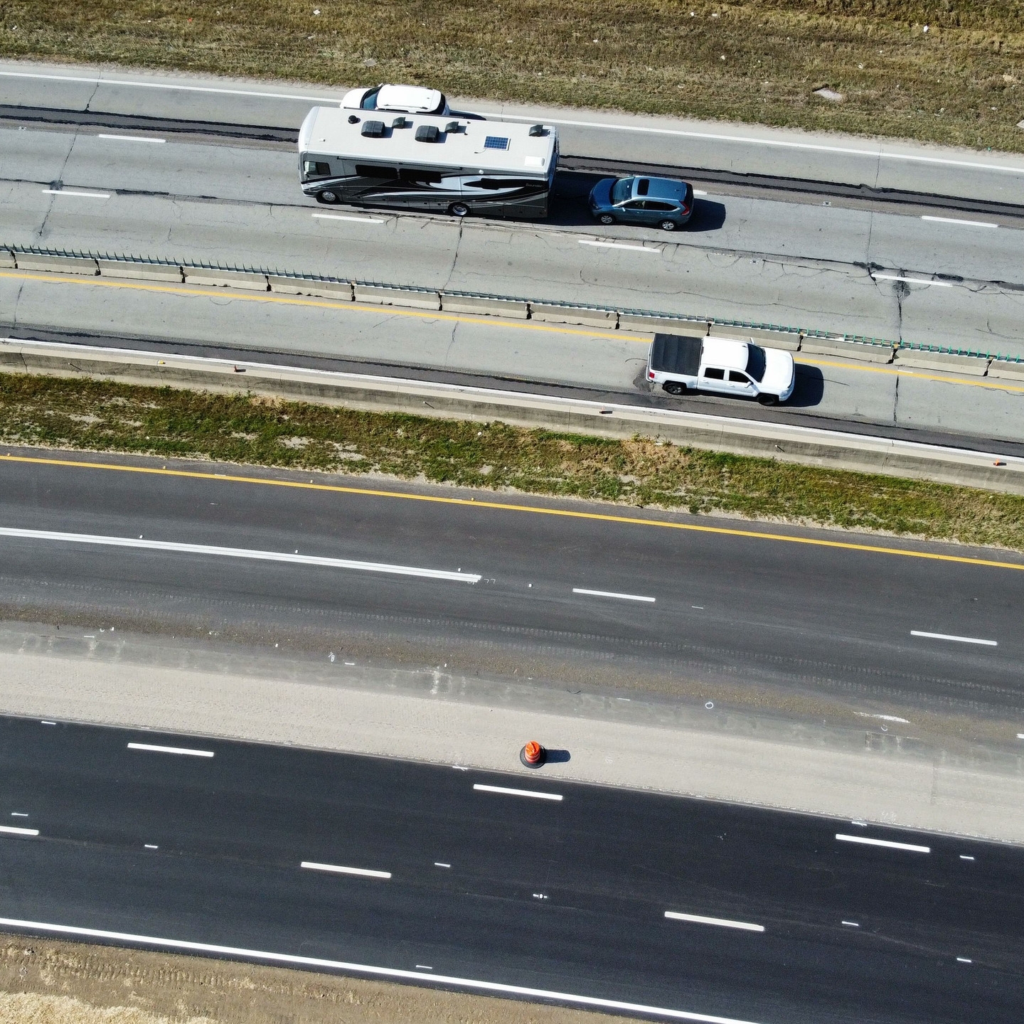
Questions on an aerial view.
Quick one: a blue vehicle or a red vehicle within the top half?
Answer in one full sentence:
It is a blue vehicle that can be seen within the top half.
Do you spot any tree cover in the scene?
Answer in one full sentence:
No, the picture contains no tree cover.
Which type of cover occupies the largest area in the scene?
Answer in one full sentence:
The bulk of the photo consists of paved ground.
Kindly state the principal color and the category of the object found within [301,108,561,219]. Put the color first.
white camper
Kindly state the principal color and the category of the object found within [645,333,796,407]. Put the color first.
white truck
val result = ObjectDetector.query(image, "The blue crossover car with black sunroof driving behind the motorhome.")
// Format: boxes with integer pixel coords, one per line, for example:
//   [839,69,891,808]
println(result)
[588,173,695,230]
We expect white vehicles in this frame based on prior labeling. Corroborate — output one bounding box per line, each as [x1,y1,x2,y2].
[301,108,561,219]
[645,333,796,407]
[339,81,452,116]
